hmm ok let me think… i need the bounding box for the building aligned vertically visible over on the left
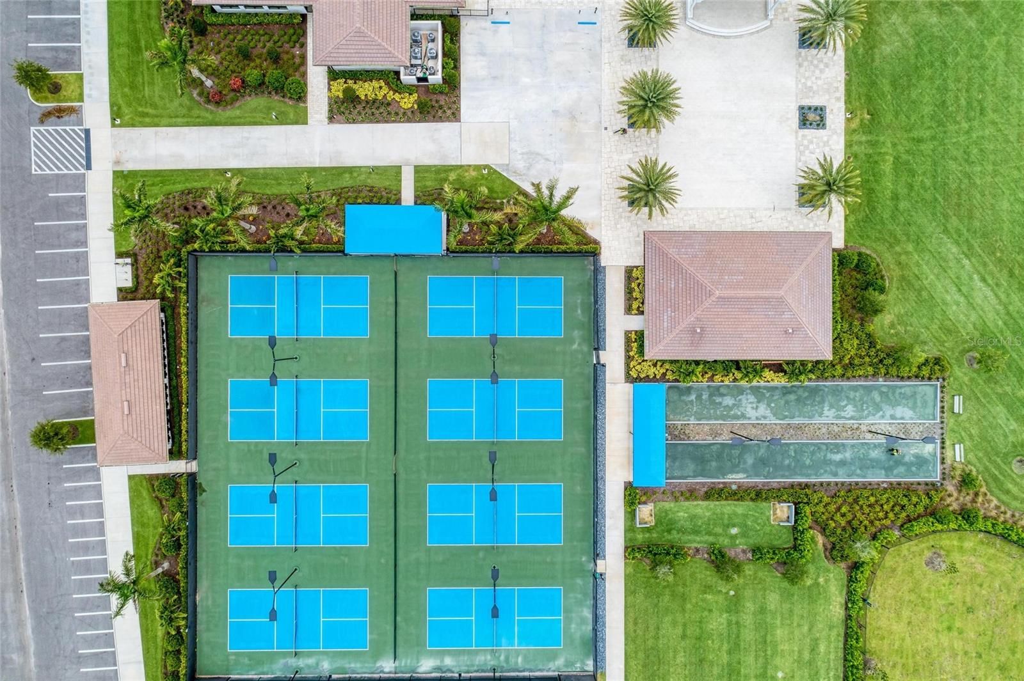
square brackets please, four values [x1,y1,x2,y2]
[88,299,175,468]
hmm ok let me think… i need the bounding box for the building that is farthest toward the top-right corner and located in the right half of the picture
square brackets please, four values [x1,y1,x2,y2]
[643,231,834,363]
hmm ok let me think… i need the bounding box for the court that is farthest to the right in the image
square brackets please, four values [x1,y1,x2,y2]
[634,382,941,482]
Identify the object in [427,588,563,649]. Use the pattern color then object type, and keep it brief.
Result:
blue sports court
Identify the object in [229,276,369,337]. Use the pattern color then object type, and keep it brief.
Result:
blue sports court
